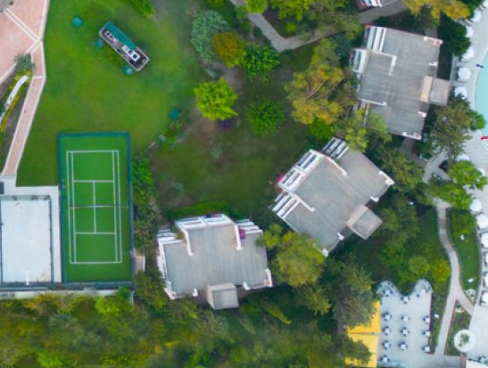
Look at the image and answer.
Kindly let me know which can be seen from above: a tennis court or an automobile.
tennis court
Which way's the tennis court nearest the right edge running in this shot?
from top to bottom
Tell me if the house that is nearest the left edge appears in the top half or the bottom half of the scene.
bottom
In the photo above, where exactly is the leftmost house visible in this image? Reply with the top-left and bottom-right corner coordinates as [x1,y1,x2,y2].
[159,208,269,311]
